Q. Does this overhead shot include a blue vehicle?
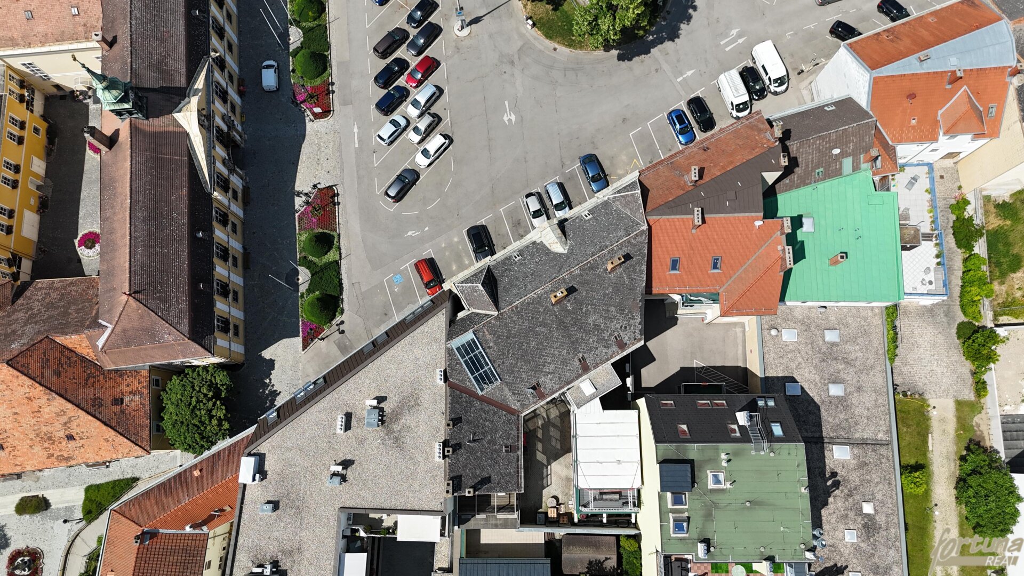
Yes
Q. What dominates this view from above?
buildings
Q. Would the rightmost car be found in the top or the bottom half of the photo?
top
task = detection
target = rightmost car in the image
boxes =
[872,0,911,22]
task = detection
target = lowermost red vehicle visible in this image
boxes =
[413,255,447,300]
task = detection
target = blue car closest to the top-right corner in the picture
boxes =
[665,106,696,148]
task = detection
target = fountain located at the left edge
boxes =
[3,544,42,576]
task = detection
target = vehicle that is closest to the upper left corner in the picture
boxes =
[259,59,281,97]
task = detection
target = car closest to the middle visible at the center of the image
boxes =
[465,221,497,263]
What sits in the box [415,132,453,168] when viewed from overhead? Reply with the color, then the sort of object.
white car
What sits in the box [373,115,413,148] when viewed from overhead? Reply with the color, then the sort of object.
white car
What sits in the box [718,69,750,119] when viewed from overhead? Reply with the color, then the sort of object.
white van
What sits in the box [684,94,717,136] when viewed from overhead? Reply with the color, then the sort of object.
black car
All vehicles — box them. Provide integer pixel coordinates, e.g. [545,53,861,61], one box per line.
[415,132,453,168]
[372,58,412,90]
[405,22,447,57]
[405,109,446,147]
[518,188,551,232]
[373,86,412,118]
[404,82,445,120]
[404,55,442,89]
[577,151,609,196]
[684,94,717,136]
[465,221,497,263]
[740,64,769,103]
[665,106,696,148]
[413,255,447,300]
[541,177,573,220]
[750,38,789,96]
[370,27,413,60]
[718,69,750,119]
[403,0,444,31]
[259,59,281,97]
[382,169,422,204]
[373,115,413,148]
[825,18,859,43]
[872,0,911,22]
